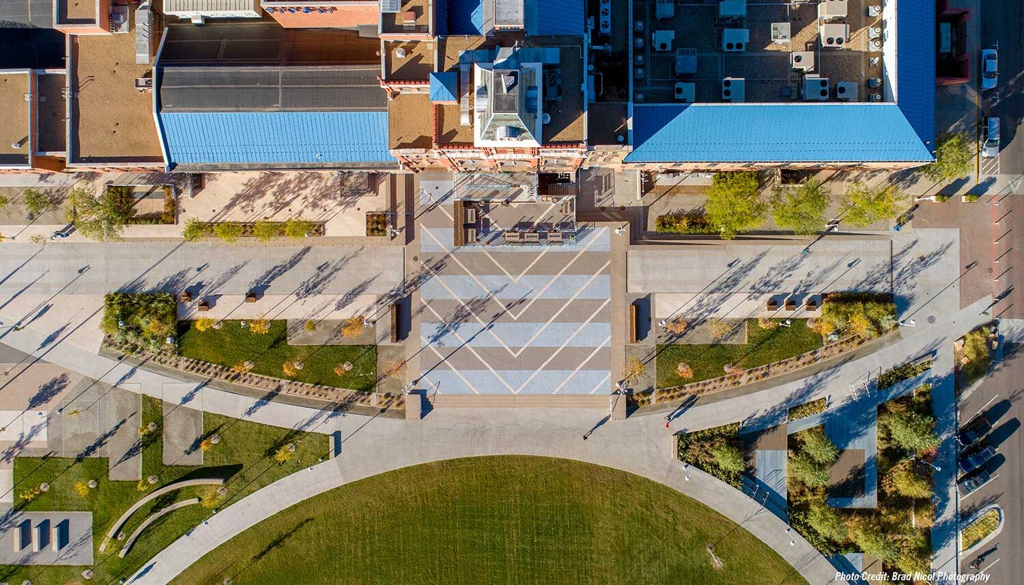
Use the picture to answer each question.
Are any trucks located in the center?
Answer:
No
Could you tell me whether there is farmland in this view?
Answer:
No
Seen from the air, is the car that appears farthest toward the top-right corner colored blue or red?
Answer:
blue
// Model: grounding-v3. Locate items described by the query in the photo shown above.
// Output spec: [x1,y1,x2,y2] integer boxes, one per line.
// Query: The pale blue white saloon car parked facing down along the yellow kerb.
[979,48,1001,88]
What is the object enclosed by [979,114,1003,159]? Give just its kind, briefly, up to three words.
truck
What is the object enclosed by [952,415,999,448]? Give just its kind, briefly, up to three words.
truck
